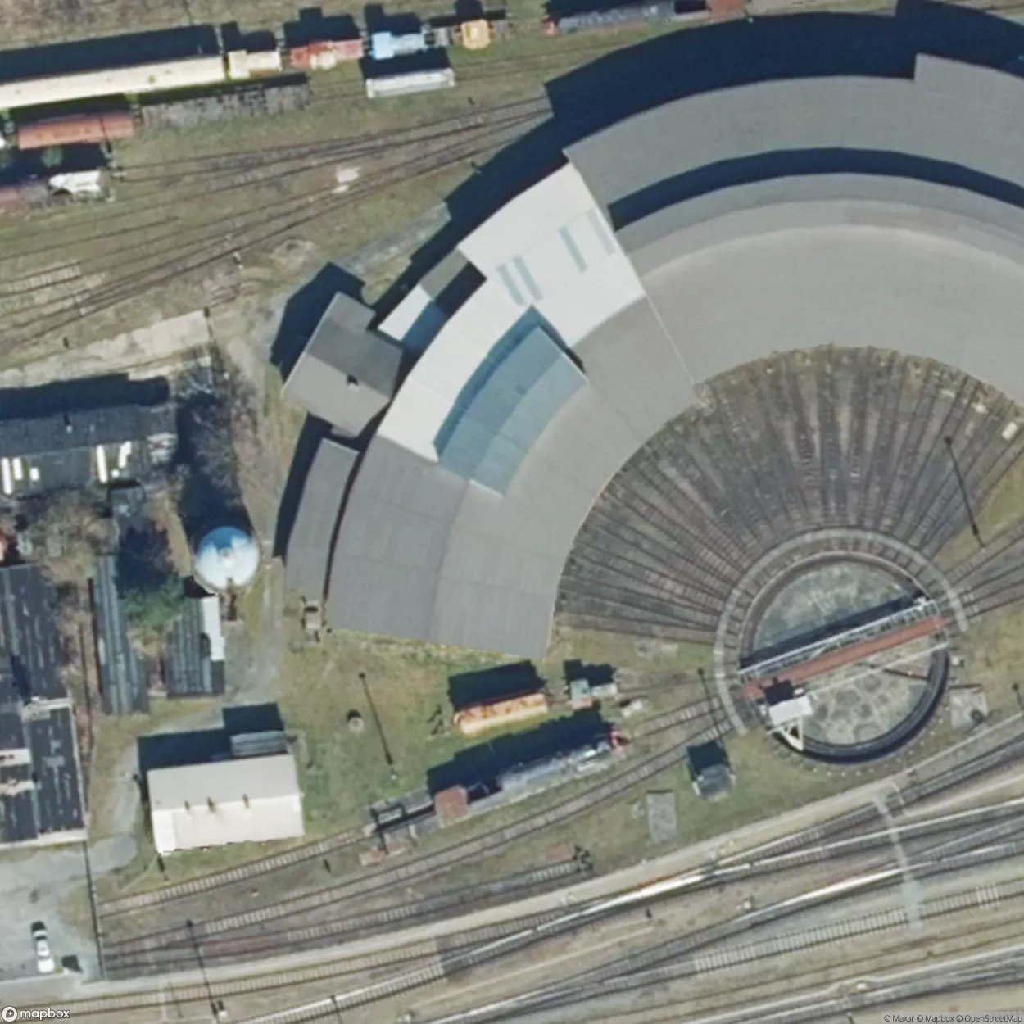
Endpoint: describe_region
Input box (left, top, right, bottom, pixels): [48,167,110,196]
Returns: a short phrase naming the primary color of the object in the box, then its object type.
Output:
white work vehicle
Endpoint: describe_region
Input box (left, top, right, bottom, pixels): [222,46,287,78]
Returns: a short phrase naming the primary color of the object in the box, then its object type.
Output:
white rail car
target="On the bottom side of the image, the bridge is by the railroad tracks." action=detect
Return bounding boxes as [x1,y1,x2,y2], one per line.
[738,597,951,751]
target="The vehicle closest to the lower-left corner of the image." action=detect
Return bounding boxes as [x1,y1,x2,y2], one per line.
[33,930,53,974]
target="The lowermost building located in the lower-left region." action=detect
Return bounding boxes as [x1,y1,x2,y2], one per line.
[147,732,303,854]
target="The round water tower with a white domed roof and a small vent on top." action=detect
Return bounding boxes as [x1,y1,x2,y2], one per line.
[195,526,258,617]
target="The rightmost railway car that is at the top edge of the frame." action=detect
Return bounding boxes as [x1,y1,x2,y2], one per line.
[544,0,685,37]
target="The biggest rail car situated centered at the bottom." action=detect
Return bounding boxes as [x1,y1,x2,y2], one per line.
[479,727,633,801]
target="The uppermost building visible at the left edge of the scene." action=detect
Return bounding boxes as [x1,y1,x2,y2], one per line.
[0,404,178,498]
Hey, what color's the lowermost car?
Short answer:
white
